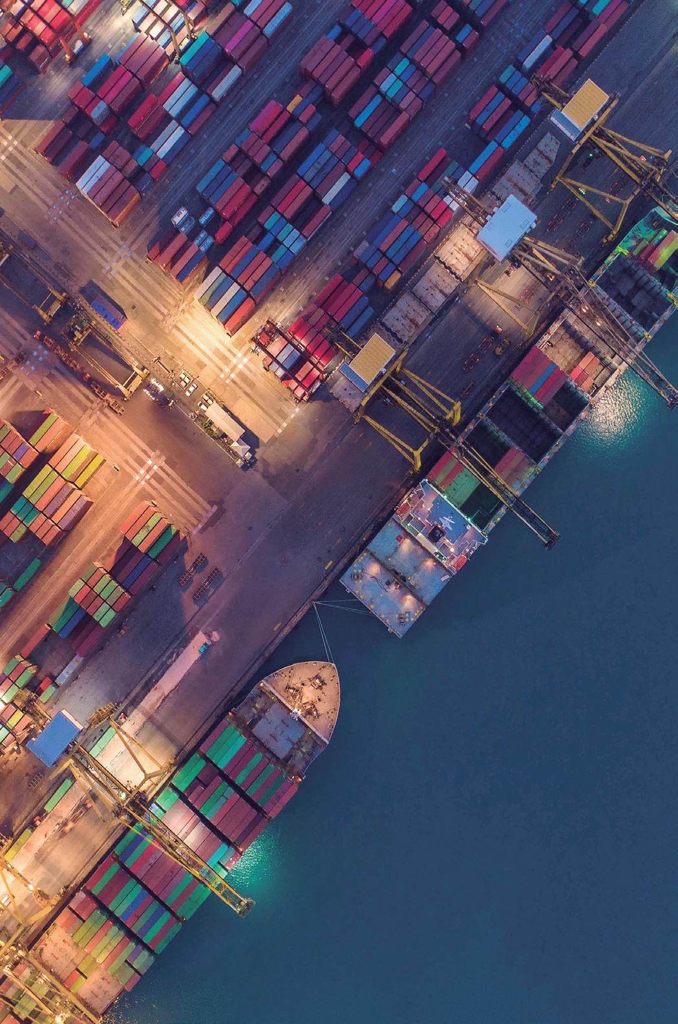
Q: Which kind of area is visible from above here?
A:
port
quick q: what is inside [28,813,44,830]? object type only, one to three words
vehicle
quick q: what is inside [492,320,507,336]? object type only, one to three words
vehicle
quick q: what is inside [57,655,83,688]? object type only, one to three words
shipping container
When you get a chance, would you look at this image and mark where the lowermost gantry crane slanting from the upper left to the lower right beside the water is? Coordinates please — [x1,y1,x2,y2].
[8,693,250,929]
